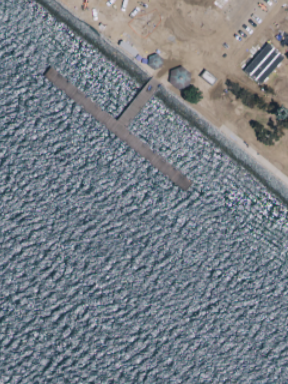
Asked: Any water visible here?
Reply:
Yes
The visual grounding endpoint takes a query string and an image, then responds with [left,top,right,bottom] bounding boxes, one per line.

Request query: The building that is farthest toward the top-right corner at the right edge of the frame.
[244,42,284,83]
